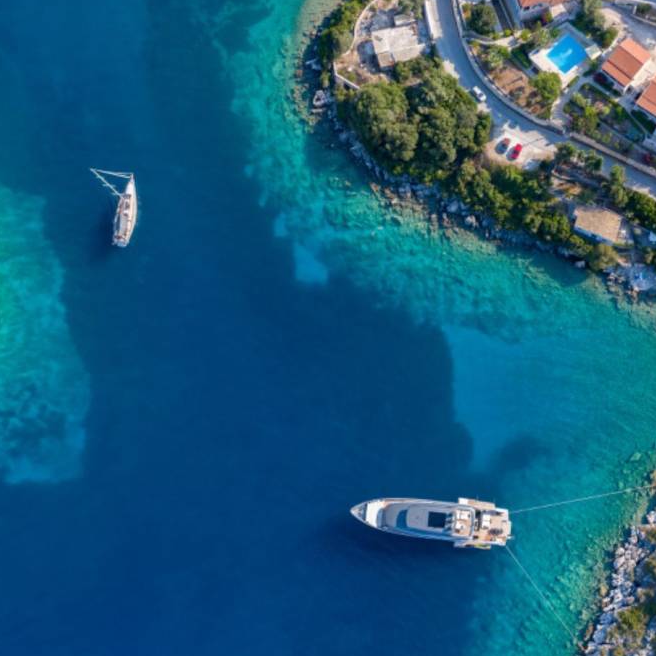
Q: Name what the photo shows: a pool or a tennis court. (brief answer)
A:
pool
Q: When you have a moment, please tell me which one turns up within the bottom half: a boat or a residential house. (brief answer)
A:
boat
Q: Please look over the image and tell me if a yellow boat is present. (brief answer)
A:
No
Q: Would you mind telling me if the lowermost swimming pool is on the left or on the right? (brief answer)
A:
right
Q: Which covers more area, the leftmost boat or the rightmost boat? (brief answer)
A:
the rightmost boat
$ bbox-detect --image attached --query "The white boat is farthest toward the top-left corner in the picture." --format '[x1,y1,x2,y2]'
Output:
[90,171,137,247]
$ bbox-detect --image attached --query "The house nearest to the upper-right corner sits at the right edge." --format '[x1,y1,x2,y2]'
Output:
[600,38,651,90]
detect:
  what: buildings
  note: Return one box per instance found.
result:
[574,208,621,243]
[372,15,425,70]
[634,77,656,122]
[515,0,567,23]
[600,38,651,90]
